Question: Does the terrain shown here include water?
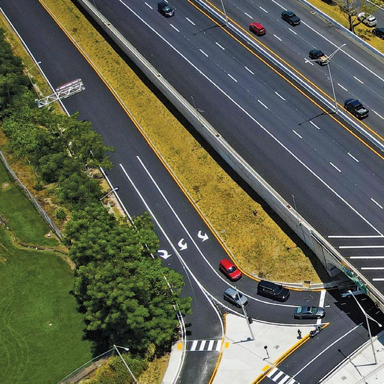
No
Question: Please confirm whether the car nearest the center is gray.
No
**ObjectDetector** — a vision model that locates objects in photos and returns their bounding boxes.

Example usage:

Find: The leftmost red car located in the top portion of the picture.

[248,22,268,37]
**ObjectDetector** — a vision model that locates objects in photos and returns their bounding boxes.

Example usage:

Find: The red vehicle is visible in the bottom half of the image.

[218,258,245,282]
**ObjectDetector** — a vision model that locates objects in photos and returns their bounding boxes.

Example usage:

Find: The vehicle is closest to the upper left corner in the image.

[157,0,176,17]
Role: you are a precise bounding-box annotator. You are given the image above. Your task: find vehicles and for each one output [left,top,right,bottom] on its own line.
[294,306,326,321]
[357,12,379,26]
[308,326,321,336]
[307,49,331,66]
[281,11,300,26]
[339,287,369,301]
[248,22,268,37]
[157,0,176,17]
[321,0,338,5]
[256,278,292,302]
[222,289,250,309]
[218,258,245,282]
[370,26,384,41]
[344,99,370,119]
